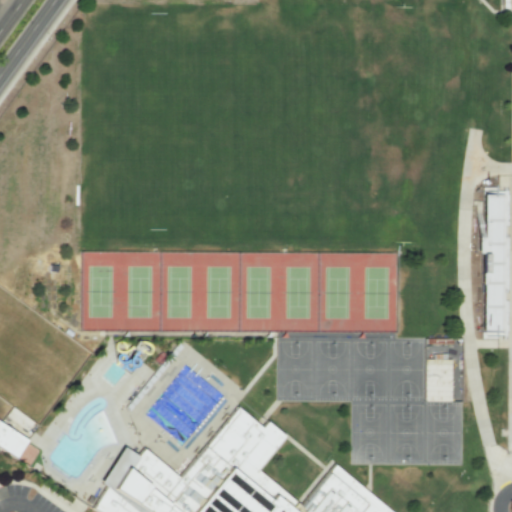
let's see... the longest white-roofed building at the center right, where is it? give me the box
[483,188,511,340]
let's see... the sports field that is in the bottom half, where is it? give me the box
[0,288,91,424]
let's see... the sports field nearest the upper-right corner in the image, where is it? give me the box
[332,6,455,248]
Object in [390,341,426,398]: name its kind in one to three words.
basketball court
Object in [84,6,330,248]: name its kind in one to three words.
soccer field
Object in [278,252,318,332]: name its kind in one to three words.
tennis court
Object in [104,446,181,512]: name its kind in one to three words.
building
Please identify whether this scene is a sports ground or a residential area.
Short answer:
sports ground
